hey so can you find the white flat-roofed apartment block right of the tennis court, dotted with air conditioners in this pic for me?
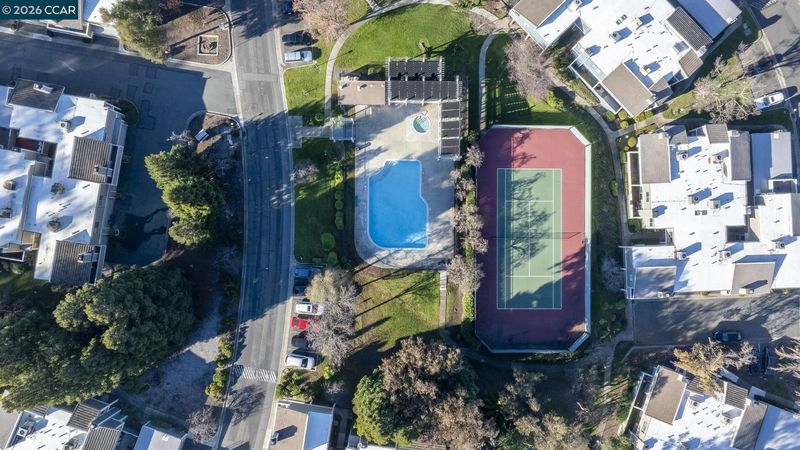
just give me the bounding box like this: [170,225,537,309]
[604,123,800,299]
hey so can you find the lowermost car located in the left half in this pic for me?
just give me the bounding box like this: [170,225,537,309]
[286,354,316,369]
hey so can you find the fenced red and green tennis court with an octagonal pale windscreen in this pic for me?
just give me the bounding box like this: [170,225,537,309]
[476,123,592,357]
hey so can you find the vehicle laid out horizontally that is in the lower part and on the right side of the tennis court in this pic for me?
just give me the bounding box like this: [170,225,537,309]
[712,330,742,344]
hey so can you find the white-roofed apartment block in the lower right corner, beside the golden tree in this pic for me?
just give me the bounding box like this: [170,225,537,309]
[612,357,800,450]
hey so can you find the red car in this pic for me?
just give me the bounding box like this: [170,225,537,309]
[292,316,320,329]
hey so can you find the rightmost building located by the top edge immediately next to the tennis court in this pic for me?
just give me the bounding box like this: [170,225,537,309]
[493,0,741,130]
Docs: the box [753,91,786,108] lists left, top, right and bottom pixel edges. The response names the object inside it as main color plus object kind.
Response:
white car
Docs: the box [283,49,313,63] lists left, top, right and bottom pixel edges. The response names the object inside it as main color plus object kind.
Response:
white car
